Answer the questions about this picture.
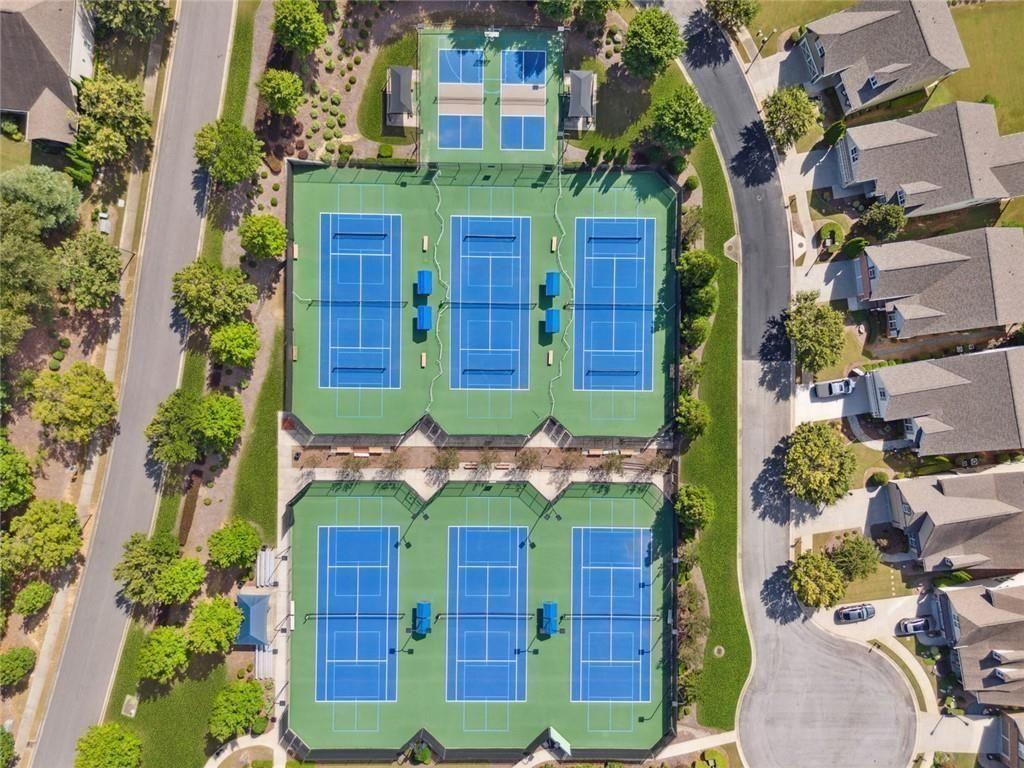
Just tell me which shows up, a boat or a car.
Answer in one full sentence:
It is a car that can be seen here.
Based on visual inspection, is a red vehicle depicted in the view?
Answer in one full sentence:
No, I can see no red vehicle in this picture.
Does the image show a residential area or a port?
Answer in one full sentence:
This looks like a residential area.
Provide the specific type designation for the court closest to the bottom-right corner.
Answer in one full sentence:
The court closest to the bottom-right corner appears to be a tennis court.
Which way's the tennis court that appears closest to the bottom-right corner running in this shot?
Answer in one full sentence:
What the image shows is the tennis court that appears closest to the bottom-right corner lying vertically.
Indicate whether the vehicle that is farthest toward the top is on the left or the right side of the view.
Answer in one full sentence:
It is on the right.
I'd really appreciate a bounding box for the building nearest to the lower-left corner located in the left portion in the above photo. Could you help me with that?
[233,588,277,644]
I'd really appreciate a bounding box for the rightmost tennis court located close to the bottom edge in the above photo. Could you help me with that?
[571,499,652,731]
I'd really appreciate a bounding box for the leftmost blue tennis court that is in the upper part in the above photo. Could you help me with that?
[319,185,401,417]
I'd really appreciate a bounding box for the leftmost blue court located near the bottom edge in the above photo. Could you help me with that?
[316,498,400,731]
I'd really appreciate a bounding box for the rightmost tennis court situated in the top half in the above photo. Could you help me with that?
[573,189,656,419]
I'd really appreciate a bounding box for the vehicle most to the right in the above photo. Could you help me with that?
[899,617,932,636]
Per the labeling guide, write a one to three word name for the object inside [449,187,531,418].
tennis court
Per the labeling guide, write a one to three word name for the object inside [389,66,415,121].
building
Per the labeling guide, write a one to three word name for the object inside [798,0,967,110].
house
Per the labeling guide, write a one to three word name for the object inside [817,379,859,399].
vehicle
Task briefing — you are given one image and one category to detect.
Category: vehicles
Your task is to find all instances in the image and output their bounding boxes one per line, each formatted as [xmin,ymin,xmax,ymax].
[899,617,932,636]
[817,379,859,399]
[840,605,877,624]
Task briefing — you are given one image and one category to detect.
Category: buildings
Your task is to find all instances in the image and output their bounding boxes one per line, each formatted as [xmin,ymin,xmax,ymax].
[0,0,94,148]
[850,228,1024,340]
[861,347,1024,456]
[886,463,1024,567]
[835,101,1024,225]
[926,573,1024,704]
[798,0,967,110]
[233,588,277,644]
[566,70,592,124]
[389,66,415,121]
